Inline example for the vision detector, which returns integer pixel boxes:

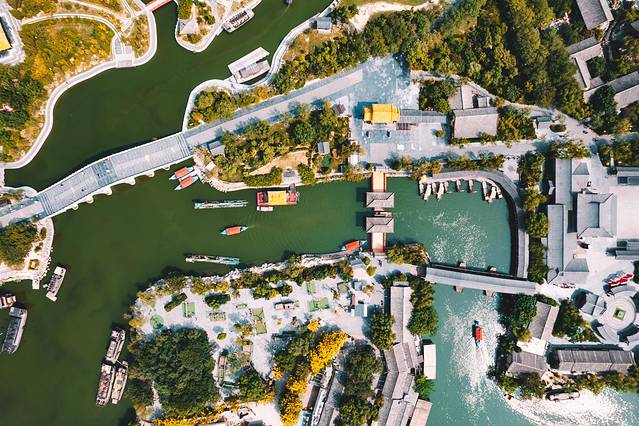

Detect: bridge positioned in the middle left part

[36,130,197,217]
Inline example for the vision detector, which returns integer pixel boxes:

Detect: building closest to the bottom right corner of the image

[557,348,638,375]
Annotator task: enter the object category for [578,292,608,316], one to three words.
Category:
building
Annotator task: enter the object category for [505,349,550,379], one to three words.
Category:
house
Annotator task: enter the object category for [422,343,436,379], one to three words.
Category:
pier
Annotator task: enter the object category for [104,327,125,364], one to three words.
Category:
boat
